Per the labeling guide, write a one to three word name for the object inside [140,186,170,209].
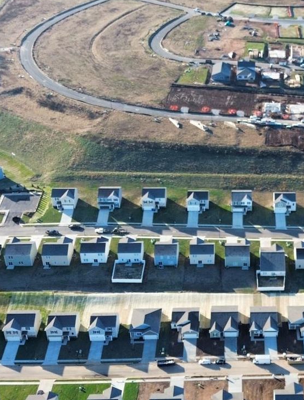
house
